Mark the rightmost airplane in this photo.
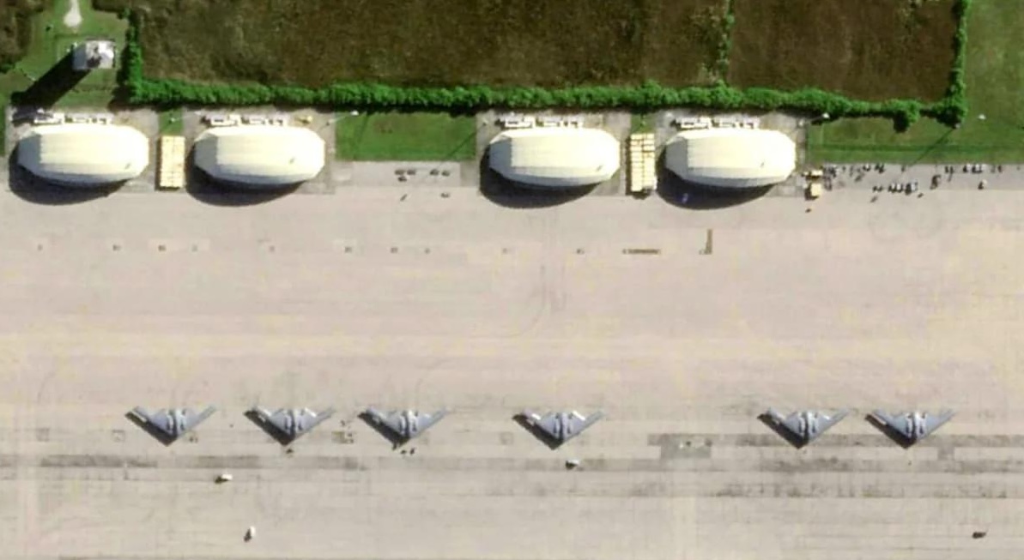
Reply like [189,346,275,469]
[875,406,956,440]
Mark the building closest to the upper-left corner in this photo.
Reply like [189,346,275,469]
[72,38,113,71]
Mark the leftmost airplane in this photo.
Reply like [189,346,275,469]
[133,403,219,438]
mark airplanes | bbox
[365,403,449,438]
[521,407,605,442]
[133,403,219,438]
[250,402,335,438]
[767,407,849,441]
[875,406,956,440]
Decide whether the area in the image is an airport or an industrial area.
airport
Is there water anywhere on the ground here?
No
